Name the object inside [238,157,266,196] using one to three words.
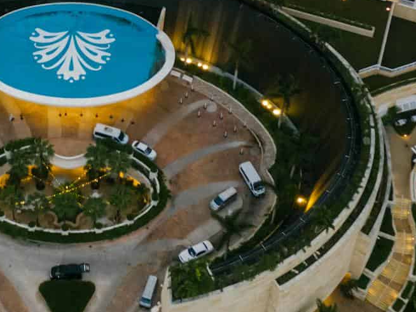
van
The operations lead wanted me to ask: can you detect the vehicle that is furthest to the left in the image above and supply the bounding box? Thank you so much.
[51,262,90,280]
